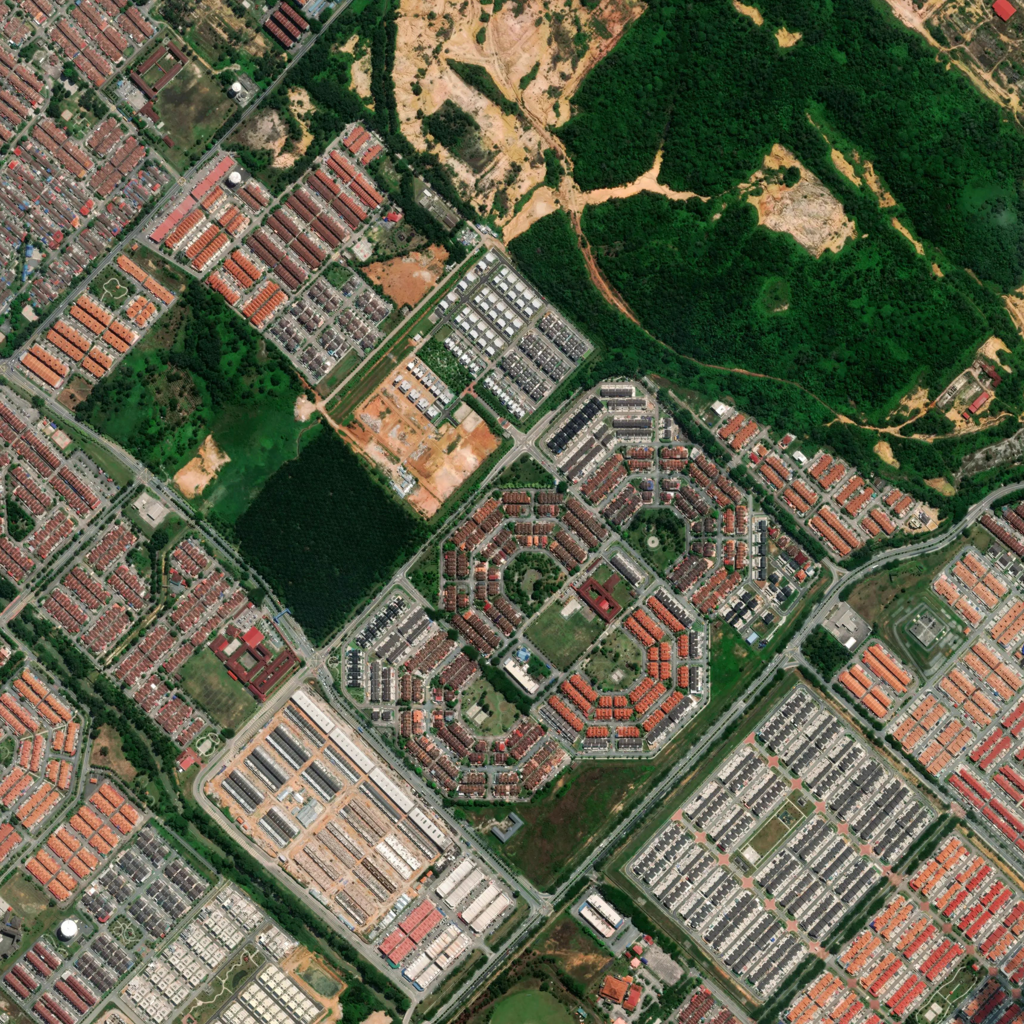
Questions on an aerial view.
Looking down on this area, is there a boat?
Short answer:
No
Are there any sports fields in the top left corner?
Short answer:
Yes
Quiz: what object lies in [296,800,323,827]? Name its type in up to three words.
shed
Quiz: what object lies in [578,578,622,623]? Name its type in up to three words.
building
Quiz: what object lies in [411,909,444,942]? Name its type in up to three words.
building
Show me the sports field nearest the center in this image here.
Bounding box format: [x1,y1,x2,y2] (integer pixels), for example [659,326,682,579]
[530,606,603,670]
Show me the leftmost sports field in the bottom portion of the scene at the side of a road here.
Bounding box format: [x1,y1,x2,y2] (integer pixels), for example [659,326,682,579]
[182,649,256,729]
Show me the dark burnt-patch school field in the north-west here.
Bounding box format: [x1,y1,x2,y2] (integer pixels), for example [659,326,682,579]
[159,63,238,166]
